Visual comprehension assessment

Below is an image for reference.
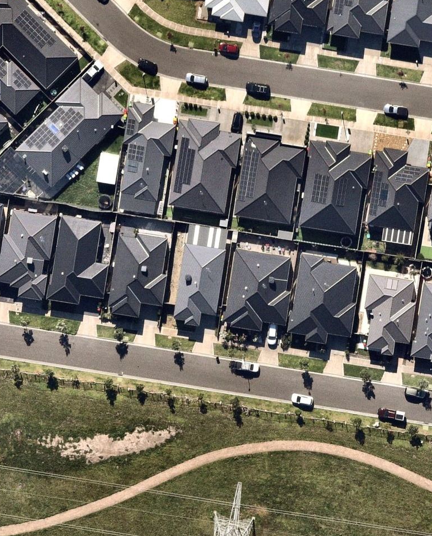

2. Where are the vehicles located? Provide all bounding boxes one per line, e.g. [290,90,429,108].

[218,44,240,55]
[235,361,260,372]
[405,388,430,400]
[252,20,262,41]
[135,59,159,74]
[81,61,105,83]
[186,73,209,86]
[231,109,243,134]
[245,83,271,97]
[266,324,277,345]
[290,394,314,406]
[377,408,405,421]
[384,105,408,116]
